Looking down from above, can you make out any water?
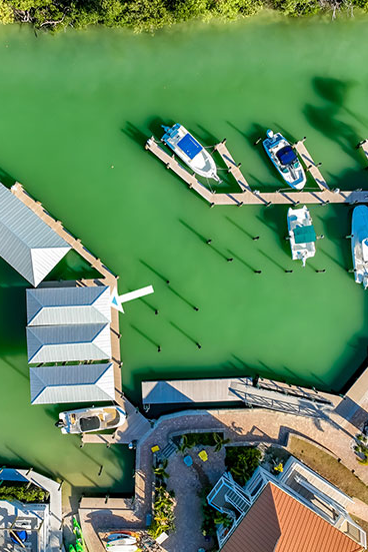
Yes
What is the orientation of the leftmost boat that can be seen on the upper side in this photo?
at an angle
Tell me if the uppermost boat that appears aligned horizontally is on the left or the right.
left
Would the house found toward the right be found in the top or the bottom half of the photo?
bottom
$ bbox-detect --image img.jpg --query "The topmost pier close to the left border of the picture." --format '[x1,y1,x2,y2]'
[10,181,125,400]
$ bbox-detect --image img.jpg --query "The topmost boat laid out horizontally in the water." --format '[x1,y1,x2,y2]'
[52,403,126,434]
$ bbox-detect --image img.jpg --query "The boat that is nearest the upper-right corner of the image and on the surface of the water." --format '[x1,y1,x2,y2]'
[262,128,304,190]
